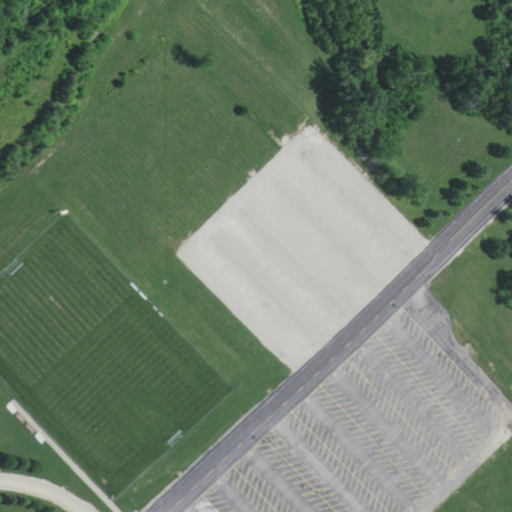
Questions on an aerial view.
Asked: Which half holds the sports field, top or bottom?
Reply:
bottom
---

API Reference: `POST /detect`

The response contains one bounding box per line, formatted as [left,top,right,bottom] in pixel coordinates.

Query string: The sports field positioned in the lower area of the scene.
[0,214,232,498]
